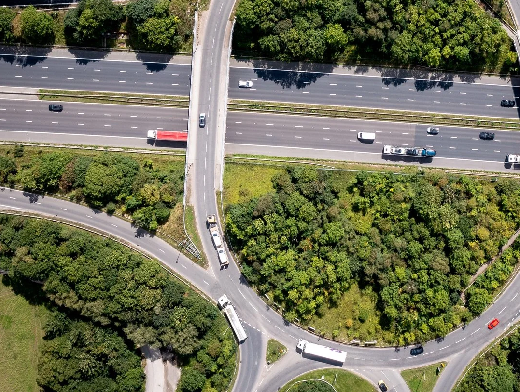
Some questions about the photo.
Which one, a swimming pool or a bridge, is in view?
bridge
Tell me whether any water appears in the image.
No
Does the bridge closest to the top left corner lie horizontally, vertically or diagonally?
vertically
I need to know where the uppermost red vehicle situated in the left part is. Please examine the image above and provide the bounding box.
[149,129,187,142]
